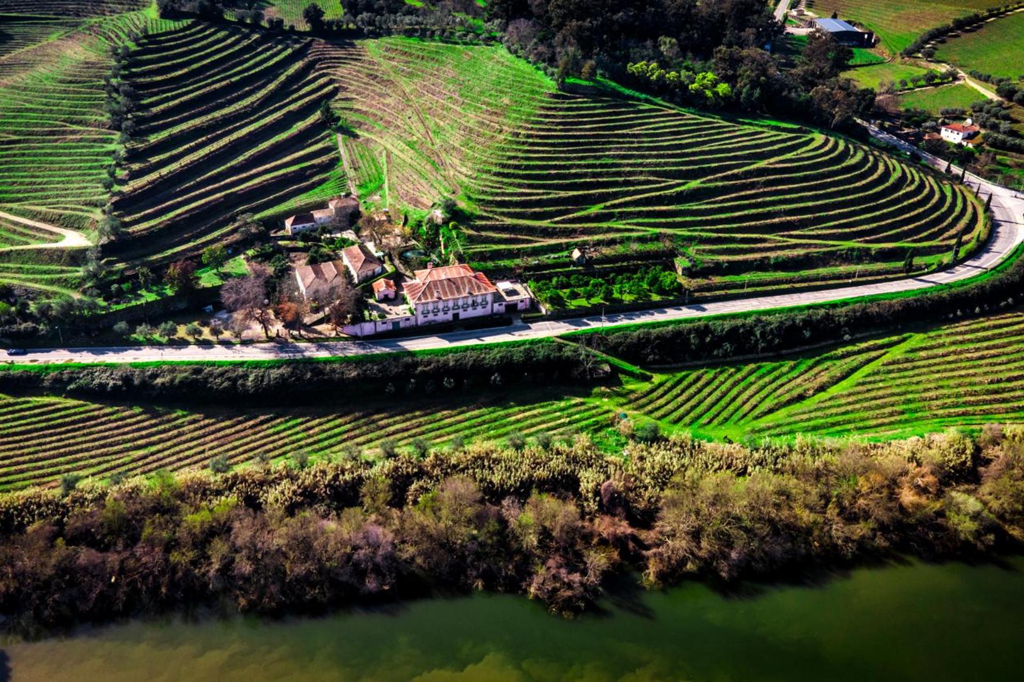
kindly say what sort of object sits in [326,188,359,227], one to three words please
house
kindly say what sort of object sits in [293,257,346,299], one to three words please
barn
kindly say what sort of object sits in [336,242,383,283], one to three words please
barn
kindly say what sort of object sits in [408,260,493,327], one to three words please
house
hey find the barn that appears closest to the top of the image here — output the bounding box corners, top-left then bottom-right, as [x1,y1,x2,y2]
[823,18,877,47]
